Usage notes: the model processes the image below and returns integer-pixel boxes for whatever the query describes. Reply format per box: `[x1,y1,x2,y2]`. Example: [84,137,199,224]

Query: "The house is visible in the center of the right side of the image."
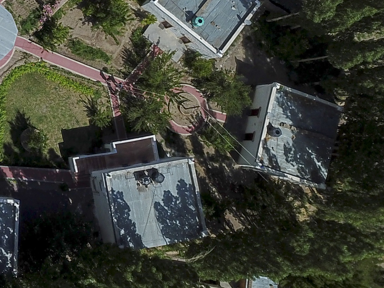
[235,81,343,188]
